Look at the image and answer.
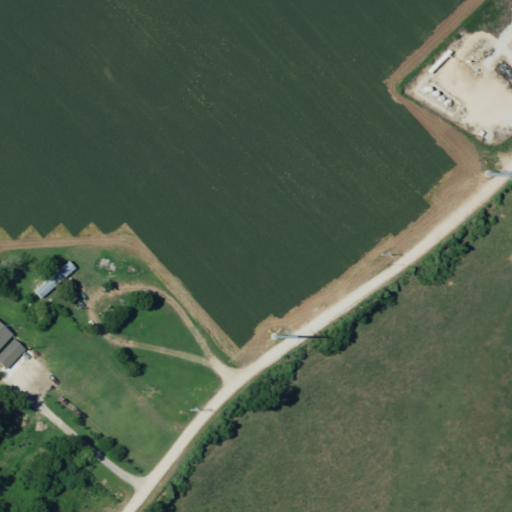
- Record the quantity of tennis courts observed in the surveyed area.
none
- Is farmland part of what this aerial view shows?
Yes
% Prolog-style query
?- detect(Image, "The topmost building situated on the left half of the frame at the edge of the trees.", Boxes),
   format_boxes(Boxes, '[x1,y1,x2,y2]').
[34,260,76,298]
